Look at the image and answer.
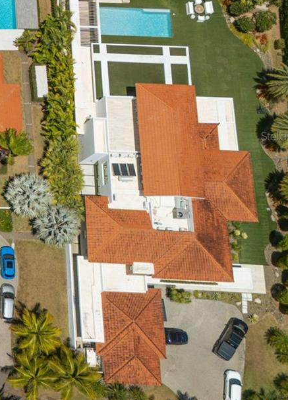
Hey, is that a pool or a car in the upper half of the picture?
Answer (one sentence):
Visible in the upper half of the picture is a pool.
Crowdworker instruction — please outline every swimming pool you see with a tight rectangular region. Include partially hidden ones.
[100,7,173,38]
[0,0,17,30]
